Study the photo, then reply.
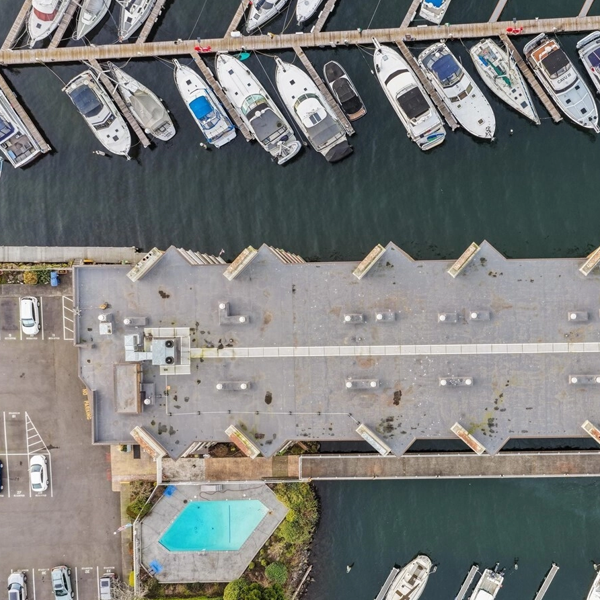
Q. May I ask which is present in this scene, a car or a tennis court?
car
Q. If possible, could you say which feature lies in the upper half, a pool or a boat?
boat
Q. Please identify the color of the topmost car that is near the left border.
white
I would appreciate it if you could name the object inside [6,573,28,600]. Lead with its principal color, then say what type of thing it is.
white car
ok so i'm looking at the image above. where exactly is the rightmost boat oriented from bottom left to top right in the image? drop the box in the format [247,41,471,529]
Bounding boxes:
[574,30,600,50]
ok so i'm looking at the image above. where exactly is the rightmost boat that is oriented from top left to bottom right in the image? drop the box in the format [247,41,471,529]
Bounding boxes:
[522,38,599,133]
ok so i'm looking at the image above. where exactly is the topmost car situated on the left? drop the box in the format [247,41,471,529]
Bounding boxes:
[18,297,39,333]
